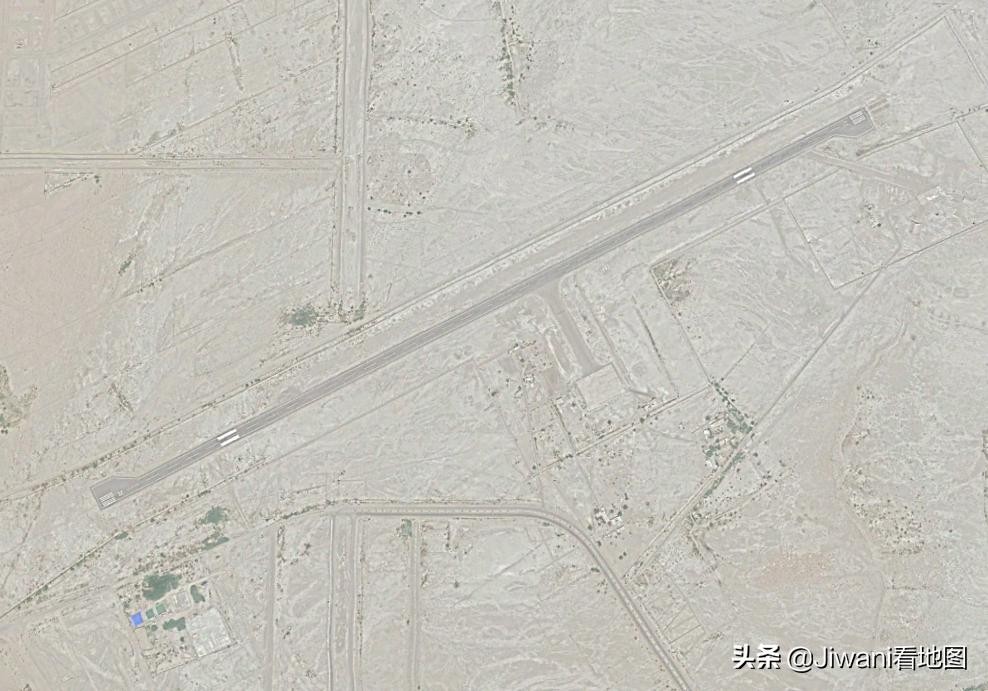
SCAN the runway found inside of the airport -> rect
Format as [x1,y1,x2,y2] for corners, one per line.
[90,108,874,510]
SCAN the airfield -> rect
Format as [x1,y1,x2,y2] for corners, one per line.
[90,108,874,510]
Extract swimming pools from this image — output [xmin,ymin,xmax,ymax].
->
[129,611,144,627]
